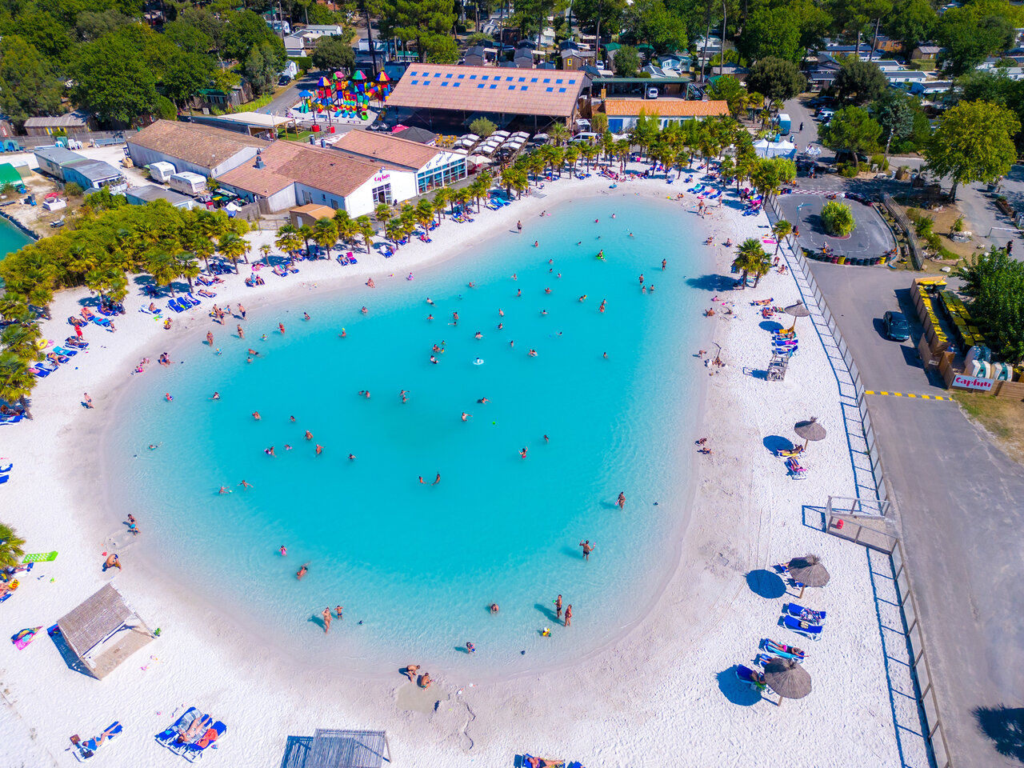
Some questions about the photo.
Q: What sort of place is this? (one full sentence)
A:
This image shows a beach.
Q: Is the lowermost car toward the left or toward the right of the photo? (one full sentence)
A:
The lowermost car sits on the right side.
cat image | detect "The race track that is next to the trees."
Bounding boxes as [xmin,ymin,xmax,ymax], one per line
[778,191,894,264]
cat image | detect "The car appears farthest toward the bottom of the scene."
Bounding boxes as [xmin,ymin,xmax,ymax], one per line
[885,307,911,342]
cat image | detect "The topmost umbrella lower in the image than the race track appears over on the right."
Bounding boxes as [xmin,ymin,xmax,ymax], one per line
[785,297,814,322]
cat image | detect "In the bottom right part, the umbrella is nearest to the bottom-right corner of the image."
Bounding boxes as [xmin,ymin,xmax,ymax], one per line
[762,658,817,708]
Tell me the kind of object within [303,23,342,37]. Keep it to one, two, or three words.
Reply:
house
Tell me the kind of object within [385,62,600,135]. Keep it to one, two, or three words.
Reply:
building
